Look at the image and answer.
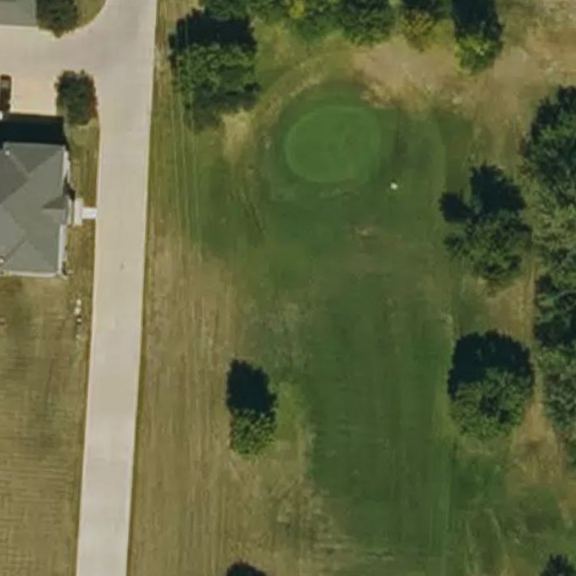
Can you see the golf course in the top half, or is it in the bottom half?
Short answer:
bottom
